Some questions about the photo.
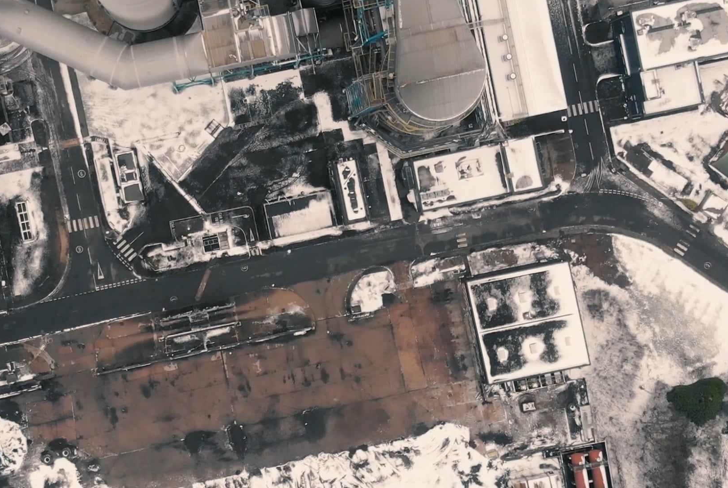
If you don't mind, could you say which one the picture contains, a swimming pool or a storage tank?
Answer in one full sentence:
Of the two, only a storage tank appears.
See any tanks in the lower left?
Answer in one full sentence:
No, looking in the lower left, there is no tank.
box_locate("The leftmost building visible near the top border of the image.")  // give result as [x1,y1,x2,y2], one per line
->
[198,0,318,76]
